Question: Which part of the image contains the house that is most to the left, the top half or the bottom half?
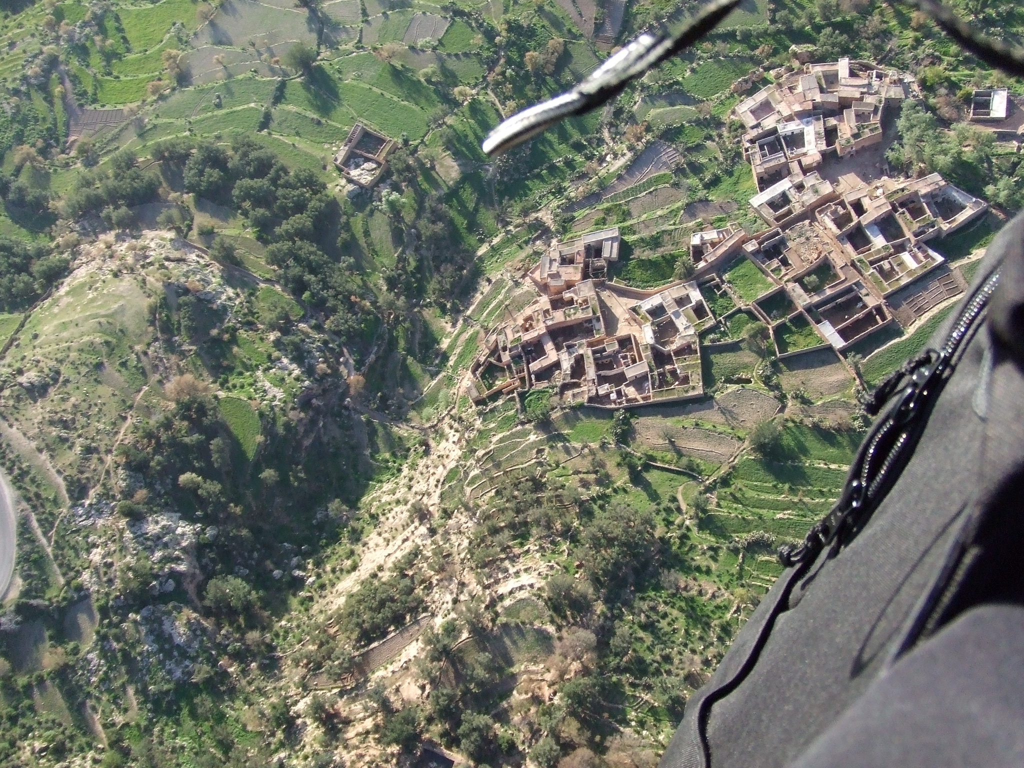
top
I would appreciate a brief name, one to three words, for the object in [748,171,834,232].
house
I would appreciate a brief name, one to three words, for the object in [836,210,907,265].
house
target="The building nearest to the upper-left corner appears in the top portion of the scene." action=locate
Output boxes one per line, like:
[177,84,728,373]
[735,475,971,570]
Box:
[333,124,396,200]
